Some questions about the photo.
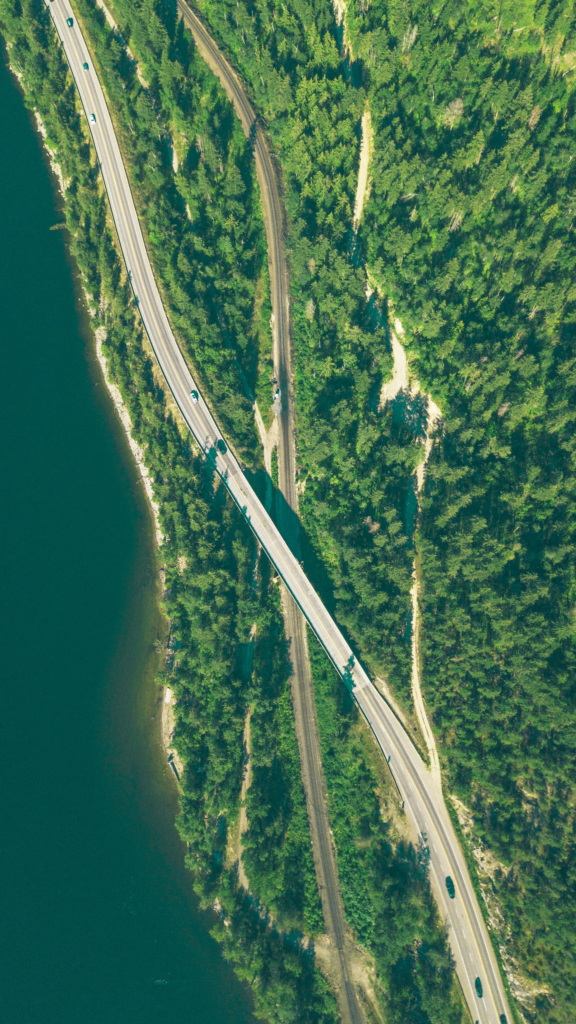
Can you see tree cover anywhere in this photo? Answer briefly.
Yes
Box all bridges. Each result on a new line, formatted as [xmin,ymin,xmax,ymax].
[220,466,370,694]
